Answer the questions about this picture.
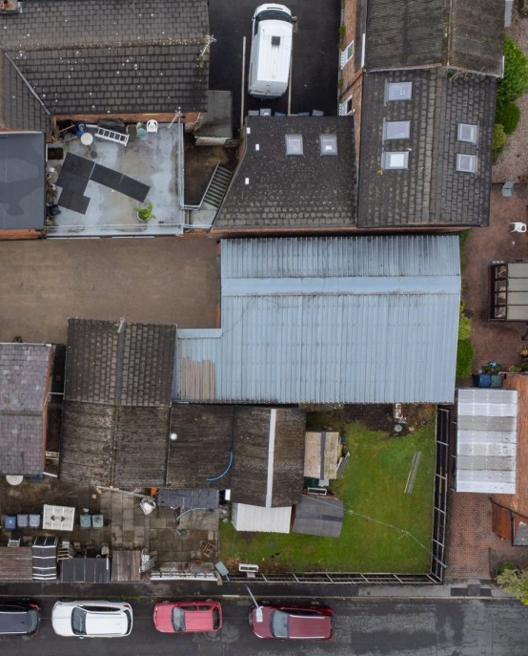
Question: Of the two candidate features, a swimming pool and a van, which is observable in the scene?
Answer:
van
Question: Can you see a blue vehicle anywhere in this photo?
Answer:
No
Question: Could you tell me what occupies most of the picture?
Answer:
buildings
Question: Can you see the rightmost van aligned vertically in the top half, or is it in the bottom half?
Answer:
top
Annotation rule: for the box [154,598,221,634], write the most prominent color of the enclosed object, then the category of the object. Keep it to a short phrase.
red car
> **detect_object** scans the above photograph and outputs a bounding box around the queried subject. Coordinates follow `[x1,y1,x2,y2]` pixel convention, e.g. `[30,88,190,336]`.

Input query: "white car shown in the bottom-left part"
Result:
[54,598,132,637]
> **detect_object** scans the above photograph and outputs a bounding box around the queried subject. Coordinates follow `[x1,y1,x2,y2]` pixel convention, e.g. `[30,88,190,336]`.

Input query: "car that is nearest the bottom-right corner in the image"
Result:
[249,599,332,640]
